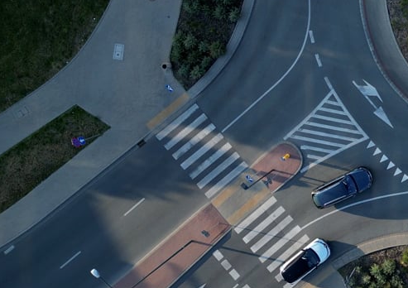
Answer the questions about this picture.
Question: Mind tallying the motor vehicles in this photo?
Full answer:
In total, 2 motor vehicles can be seen.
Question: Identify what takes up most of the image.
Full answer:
The scene is dominated by paved ground.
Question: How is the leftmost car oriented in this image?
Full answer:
I'd say the leftmost car is aligned at an angle in the picture.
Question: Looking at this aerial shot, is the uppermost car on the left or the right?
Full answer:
The uppermost car is on the right side of the image.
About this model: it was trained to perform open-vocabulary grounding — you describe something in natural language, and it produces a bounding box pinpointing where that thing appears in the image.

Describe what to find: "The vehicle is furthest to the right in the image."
[310,166,376,210]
